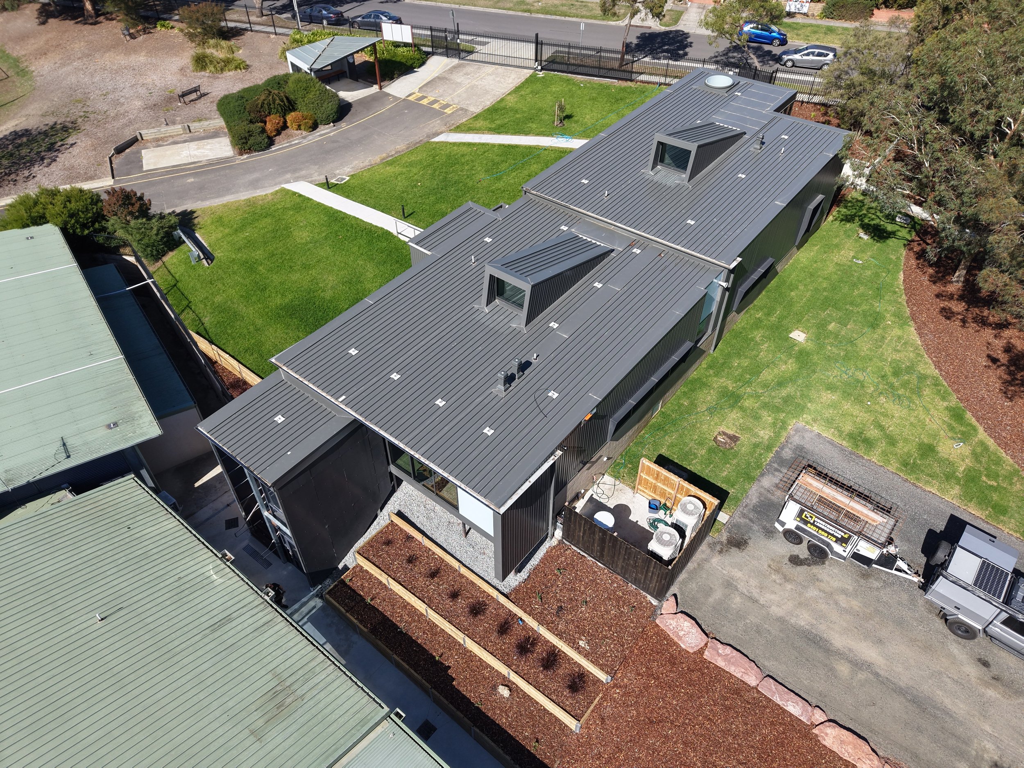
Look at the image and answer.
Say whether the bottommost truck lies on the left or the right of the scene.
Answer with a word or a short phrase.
right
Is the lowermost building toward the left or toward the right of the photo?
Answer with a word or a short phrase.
left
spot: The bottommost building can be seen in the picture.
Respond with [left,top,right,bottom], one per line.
[0,473,452,768]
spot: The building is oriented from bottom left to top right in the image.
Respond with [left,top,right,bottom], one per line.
[191,65,854,589]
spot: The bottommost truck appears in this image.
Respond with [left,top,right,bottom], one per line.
[918,525,1024,669]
